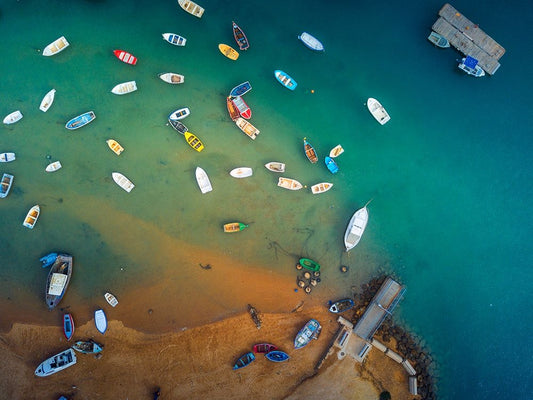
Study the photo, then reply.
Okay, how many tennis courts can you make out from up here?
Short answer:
0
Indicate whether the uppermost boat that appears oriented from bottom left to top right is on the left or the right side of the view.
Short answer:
left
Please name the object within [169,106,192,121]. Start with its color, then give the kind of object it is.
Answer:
white boat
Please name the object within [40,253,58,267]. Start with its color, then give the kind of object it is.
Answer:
blue boat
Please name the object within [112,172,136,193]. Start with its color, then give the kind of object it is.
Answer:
white boat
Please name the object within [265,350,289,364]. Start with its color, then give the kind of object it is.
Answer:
blue boat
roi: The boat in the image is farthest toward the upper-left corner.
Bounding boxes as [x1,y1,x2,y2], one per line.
[42,35,70,56]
